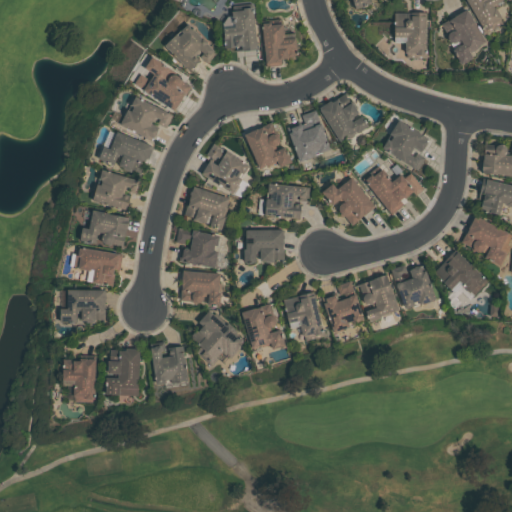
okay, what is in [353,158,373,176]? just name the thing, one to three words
swimming pool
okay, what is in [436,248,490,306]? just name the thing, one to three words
house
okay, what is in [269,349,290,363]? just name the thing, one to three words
swimming pool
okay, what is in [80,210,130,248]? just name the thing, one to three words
house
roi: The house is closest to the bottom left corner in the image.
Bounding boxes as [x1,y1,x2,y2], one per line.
[62,355,97,404]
